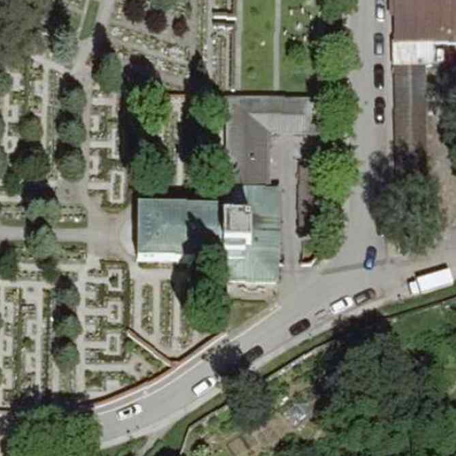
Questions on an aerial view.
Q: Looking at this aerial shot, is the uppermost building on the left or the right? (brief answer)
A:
right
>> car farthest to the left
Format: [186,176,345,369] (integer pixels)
[118,404,141,419]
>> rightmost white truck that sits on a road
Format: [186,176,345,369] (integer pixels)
[408,264,454,292]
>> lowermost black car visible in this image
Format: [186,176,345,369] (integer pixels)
[241,345,263,361]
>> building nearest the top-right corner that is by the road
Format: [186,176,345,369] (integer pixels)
[389,0,456,69]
